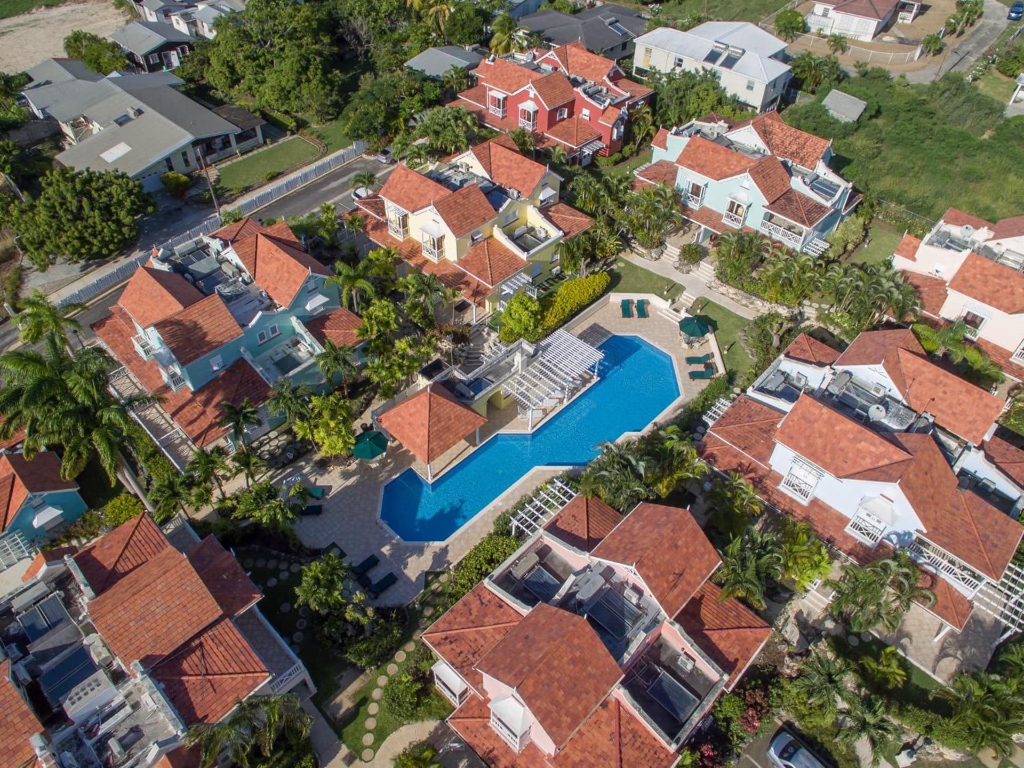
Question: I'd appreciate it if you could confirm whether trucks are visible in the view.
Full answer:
No, there isn't any truck down there.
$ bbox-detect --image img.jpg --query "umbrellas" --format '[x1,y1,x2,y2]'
[348,430,393,468]
[675,314,712,347]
